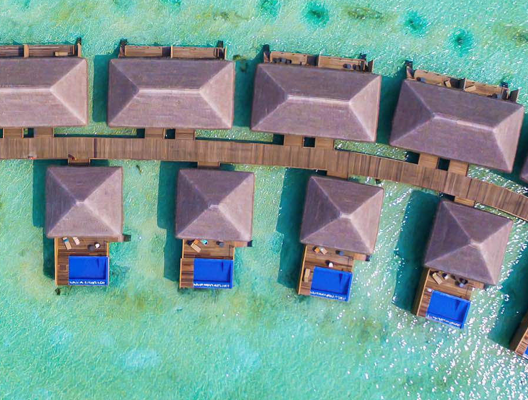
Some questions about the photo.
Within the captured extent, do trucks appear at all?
No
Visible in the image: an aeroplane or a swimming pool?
swimming pool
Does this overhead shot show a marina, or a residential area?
residential area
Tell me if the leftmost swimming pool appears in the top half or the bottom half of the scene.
bottom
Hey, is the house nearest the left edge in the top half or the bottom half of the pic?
top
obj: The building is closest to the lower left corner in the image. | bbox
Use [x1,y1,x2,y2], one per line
[47,167,133,288]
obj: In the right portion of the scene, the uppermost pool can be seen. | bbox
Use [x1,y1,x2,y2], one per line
[310,266,352,301]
